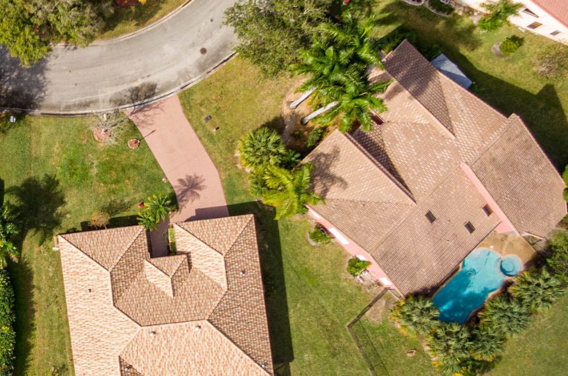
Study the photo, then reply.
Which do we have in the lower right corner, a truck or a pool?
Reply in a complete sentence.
The feature located in the lower right corner is a pool.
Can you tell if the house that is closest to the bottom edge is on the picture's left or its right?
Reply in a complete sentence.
It is on the left.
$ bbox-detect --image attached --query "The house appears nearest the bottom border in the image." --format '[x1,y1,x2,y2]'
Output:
[57,214,274,376]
